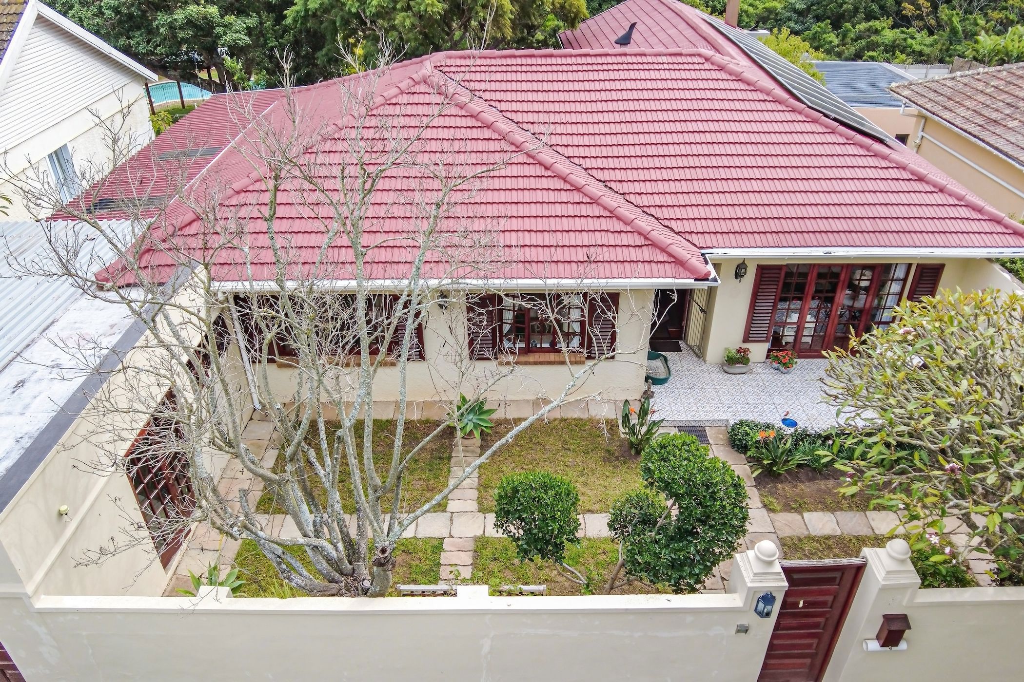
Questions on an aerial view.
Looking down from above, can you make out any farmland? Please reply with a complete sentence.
No, farmland can't be seen anywhere here.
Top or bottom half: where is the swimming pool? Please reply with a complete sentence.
The swimming pool is in the top half of the image.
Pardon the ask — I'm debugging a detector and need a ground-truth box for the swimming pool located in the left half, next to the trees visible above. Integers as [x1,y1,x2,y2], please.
[142,79,271,101]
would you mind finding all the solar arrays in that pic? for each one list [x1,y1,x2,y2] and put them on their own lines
[689,0,907,148]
